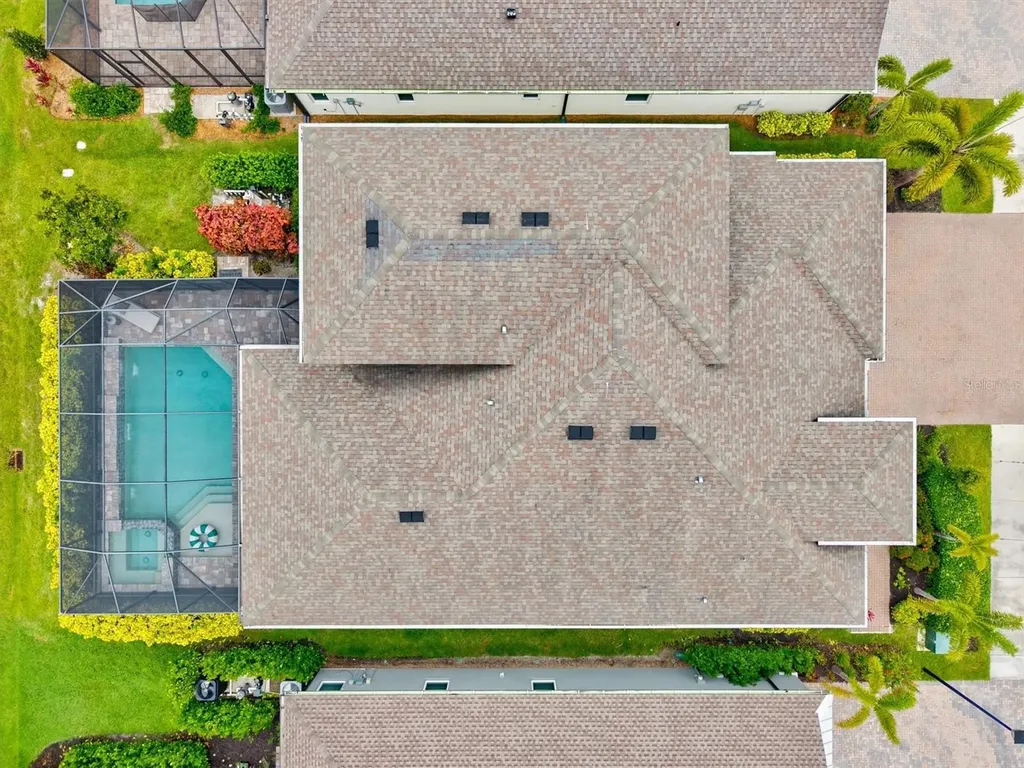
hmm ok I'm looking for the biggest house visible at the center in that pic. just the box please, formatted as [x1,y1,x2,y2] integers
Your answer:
[238,123,917,629]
